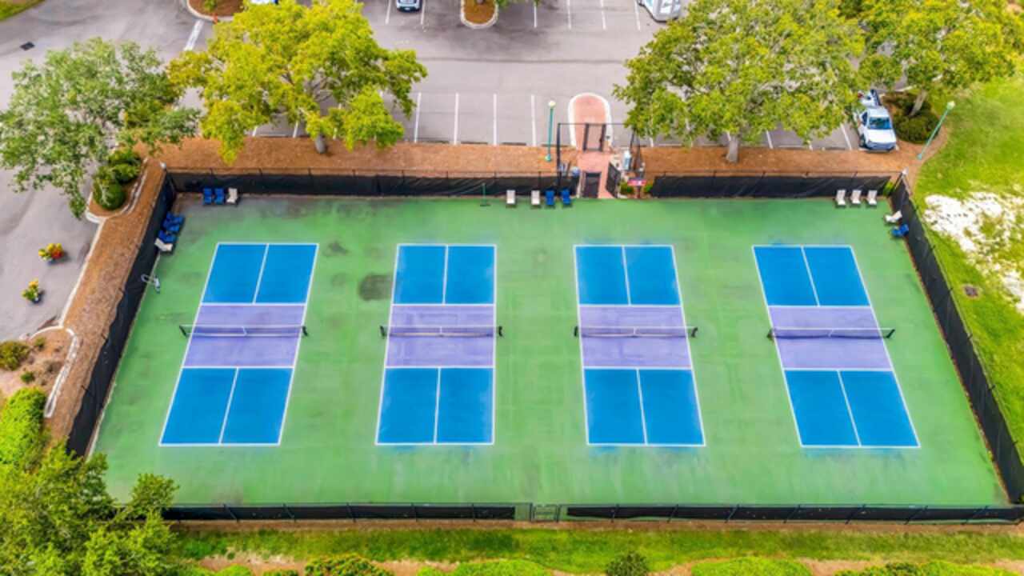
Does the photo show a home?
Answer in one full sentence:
No, this view has no home in it.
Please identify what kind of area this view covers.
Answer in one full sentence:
What you see here is a sports ground.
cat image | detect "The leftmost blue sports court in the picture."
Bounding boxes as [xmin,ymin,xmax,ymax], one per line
[159,242,317,444]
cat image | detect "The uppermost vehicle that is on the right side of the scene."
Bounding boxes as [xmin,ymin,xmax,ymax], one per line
[633,0,679,23]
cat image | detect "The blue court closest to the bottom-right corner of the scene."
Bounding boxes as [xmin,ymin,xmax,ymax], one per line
[753,245,918,446]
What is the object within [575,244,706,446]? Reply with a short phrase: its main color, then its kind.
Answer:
blue sports court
